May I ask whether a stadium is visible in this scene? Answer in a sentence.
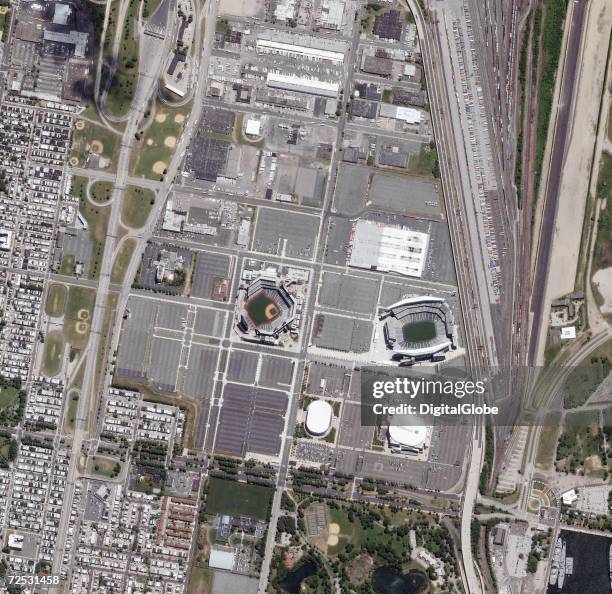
Yes, you can see a stadium in this photo.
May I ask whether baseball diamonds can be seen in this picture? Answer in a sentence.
Yes, this view includes a baseball diamond.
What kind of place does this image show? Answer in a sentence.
This looks like a residential area.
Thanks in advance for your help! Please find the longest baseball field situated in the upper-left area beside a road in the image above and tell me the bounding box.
[136,111,186,176]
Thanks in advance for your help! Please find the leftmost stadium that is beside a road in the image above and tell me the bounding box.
[235,278,296,345]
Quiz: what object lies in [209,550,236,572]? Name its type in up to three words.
building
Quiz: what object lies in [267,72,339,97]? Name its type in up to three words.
building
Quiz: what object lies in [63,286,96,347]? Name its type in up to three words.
baseball field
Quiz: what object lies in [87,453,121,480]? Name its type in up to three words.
sports field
